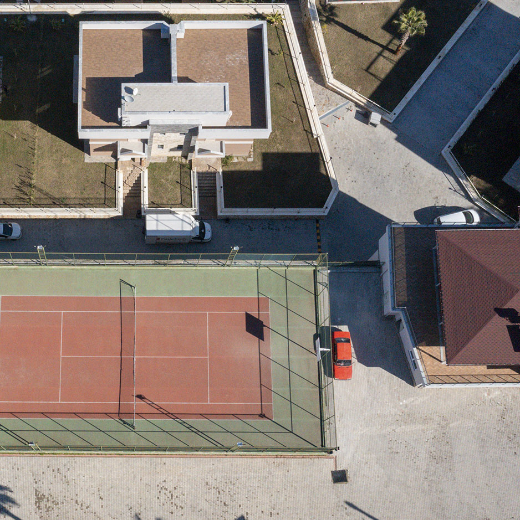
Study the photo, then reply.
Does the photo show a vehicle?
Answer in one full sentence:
Yes, there's a vehicle down there.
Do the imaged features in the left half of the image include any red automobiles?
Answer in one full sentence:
No, I see no red automobile in the left half of the image.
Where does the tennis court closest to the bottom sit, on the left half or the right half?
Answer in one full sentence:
It is on the left.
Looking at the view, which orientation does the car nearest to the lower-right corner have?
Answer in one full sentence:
The car nearest to the lower-right corner is laid out vertically.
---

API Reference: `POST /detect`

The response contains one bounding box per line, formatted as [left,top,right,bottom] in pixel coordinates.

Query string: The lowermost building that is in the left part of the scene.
[75,17,271,164]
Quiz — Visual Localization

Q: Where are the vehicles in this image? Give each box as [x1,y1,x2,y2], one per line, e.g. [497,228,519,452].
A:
[144,215,208,245]
[0,218,22,241]
[435,208,481,223]
[334,329,358,380]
